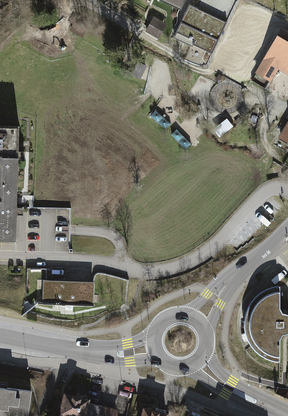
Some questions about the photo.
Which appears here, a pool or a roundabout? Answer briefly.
roundabout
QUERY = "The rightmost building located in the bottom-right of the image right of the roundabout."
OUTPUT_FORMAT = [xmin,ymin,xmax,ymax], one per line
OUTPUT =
[243,286,288,364]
